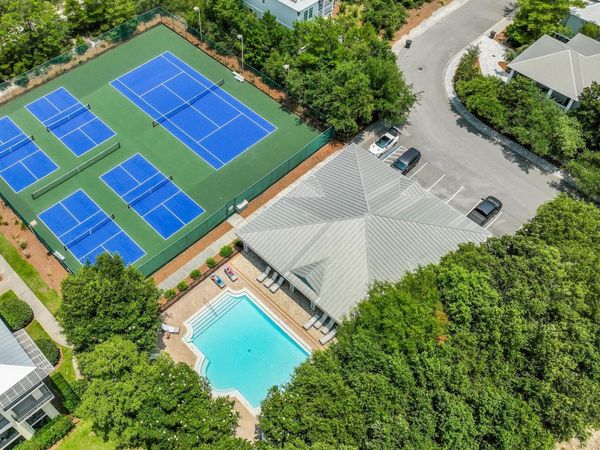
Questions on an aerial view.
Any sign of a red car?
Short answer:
No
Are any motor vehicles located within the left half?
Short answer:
No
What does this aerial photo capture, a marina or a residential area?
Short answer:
residential area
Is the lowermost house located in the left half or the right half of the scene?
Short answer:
left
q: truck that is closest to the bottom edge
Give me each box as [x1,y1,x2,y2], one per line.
[466,195,503,229]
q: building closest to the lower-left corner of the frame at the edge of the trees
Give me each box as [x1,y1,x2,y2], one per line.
[0,321,59,444]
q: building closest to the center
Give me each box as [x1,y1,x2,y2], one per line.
[236,146,493,327]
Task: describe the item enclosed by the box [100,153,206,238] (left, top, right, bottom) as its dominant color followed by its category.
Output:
blue sports court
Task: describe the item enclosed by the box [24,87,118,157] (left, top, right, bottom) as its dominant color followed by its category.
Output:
blue sports court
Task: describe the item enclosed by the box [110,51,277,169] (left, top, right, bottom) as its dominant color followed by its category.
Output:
blue tennis court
